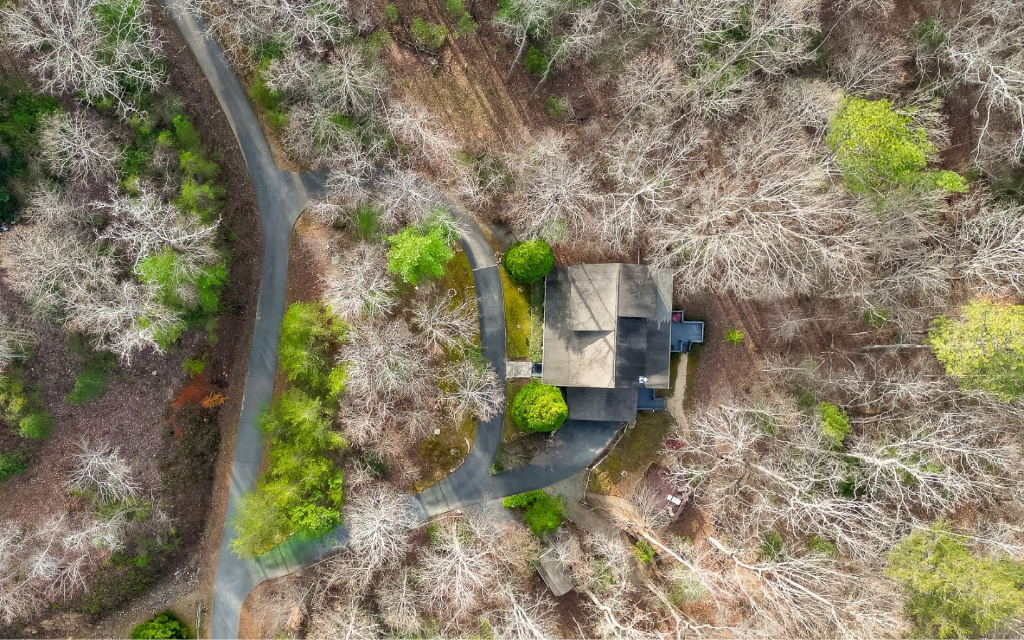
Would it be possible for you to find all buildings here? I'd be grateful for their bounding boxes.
[540,540,585,594]
[537,260,672,421]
